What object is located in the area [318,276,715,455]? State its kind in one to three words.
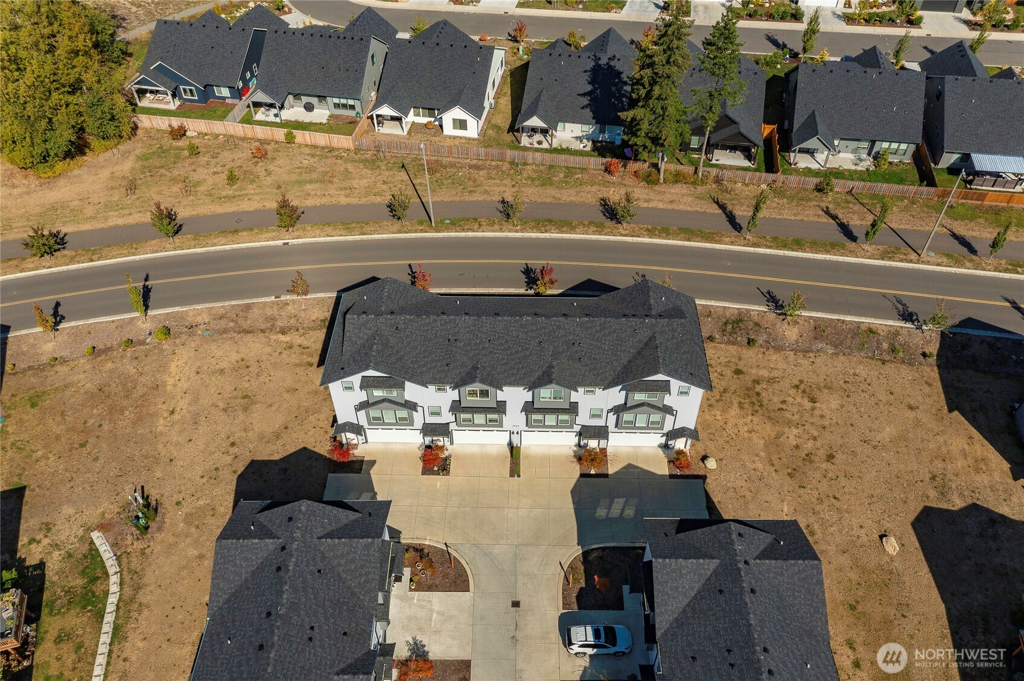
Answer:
house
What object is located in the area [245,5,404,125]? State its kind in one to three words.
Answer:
house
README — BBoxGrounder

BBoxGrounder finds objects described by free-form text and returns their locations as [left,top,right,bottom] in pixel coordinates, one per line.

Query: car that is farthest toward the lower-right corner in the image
[566,622,631,657]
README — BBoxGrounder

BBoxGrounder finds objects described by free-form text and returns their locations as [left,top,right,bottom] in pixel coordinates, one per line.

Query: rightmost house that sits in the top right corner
[918,40,1024,194]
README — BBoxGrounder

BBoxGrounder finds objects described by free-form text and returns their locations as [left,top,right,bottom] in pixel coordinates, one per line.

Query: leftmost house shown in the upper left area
[129,3,291,110]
